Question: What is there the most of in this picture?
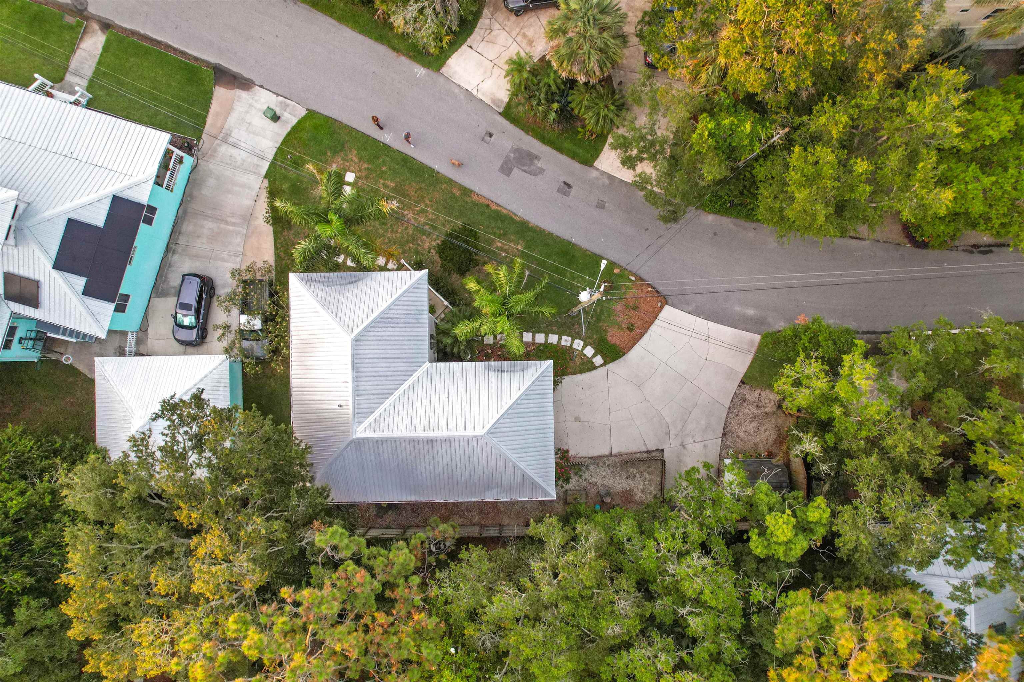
trees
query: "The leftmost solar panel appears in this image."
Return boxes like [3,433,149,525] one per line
[3,270,40,310]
